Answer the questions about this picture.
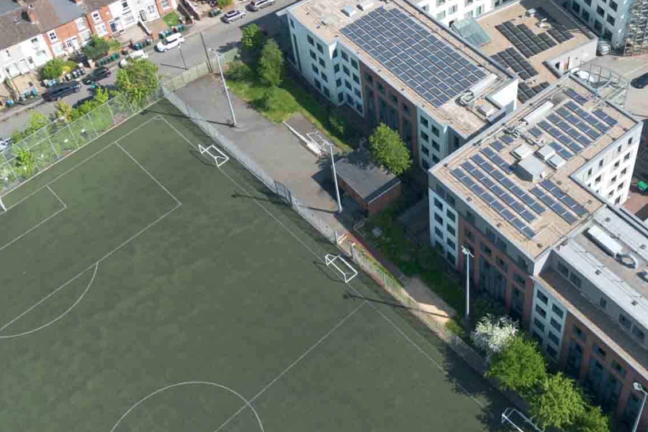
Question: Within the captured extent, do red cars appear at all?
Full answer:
No, I can't see a single red car in this photo.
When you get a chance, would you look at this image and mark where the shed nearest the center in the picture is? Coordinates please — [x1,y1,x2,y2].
[330,151,401,219]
